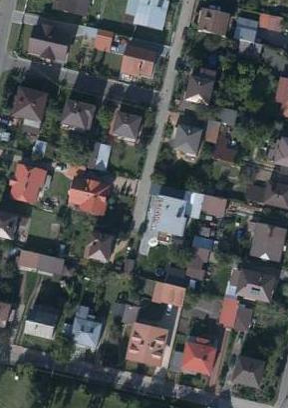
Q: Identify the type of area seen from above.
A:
residential area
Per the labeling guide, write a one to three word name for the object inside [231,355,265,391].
house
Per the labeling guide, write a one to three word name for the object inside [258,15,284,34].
shed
